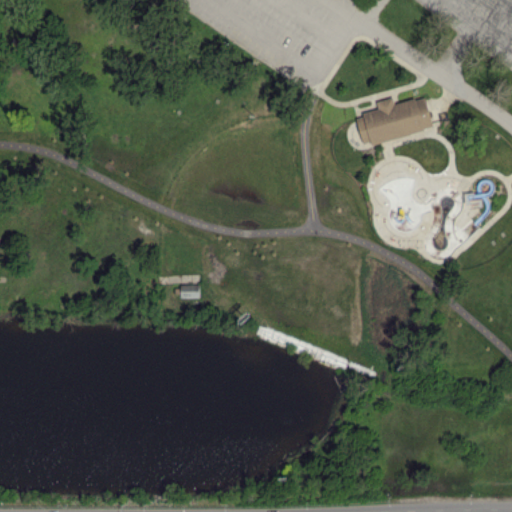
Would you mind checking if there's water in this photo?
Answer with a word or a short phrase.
Yes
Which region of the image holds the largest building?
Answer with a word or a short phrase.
top right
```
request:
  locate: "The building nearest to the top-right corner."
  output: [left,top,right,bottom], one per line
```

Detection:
[356,96,434,146]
